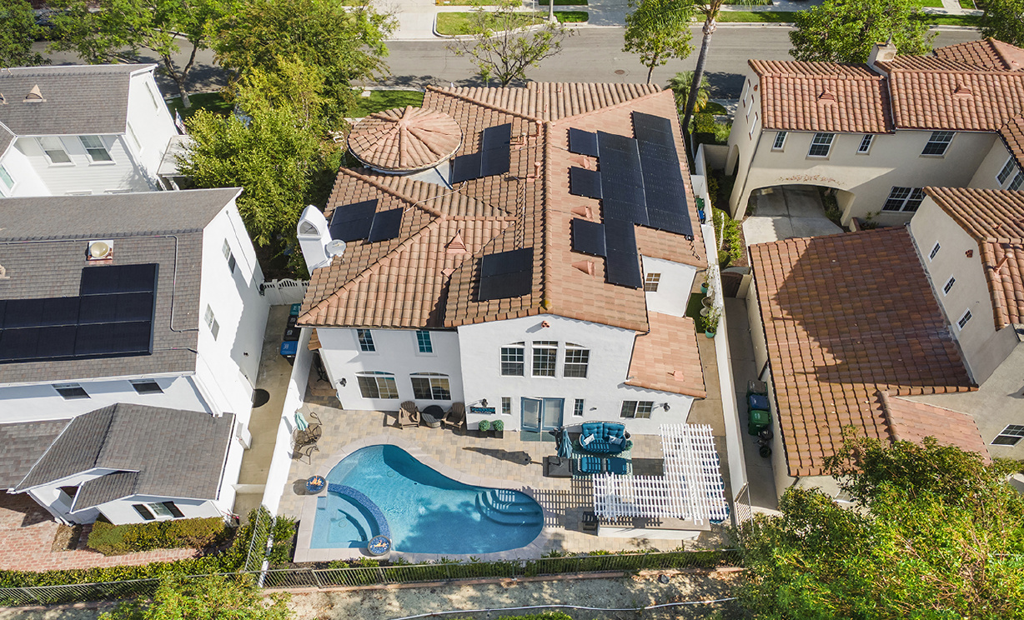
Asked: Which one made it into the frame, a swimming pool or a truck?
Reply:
swimming pool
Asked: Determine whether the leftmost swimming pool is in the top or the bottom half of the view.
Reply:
bottom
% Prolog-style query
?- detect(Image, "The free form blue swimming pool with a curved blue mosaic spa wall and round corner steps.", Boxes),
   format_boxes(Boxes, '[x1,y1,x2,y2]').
[310,443,543,552]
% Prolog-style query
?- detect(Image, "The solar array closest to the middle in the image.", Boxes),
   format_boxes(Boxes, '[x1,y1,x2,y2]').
[476,245,532,304]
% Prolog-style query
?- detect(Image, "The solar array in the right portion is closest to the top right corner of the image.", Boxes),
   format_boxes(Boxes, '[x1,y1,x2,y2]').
[571,109,695,290]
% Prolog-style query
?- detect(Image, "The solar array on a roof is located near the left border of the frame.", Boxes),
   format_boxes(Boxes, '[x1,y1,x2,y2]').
[0,263,161,371]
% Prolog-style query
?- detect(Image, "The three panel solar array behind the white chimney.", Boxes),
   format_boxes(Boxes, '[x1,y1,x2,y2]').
[329,194,406,242]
